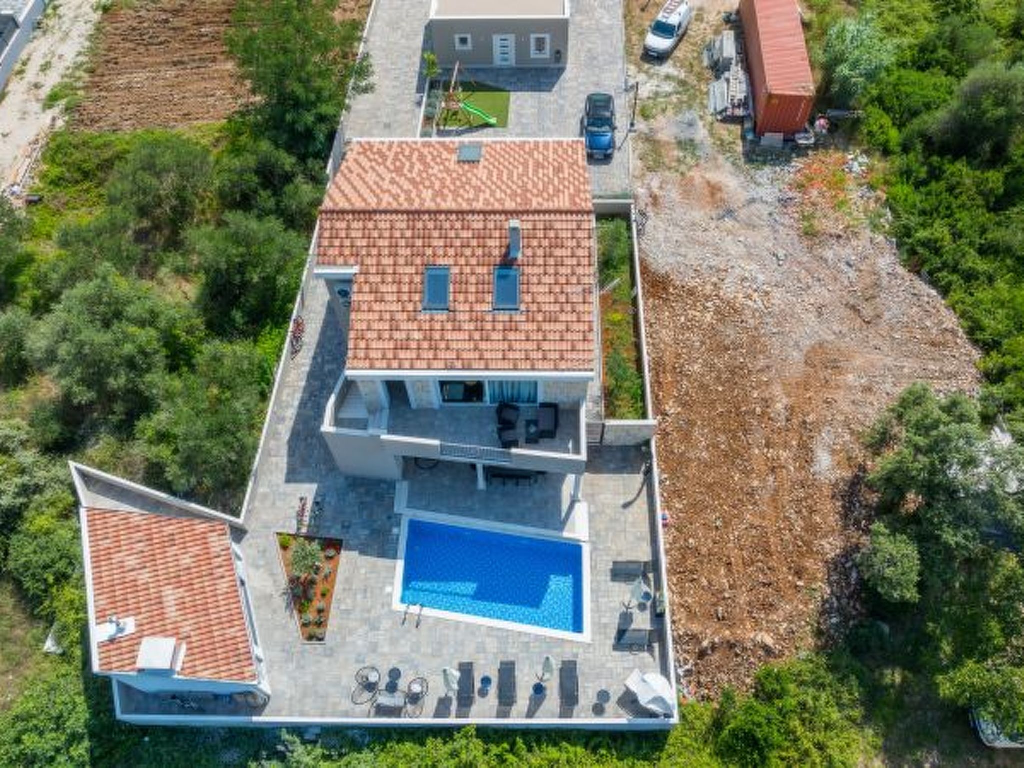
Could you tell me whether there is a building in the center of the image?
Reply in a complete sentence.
Yes, you'll find a building in the center of the image.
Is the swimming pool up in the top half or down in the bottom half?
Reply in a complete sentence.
You can find the swimming pool in the bottom half.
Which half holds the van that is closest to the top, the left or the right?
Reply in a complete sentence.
You can find the van that is closest to the top on the right side of the picture.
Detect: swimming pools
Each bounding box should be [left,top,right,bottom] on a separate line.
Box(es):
[386,514,594,644]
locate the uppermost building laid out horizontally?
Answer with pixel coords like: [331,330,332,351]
[432,0,573,66]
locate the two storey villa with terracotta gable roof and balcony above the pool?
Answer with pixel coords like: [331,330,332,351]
[312,135,599,543]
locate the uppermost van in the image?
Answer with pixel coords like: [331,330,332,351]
[640,0,694,64]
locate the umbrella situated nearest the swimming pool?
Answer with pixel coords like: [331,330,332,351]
[535,649,550,687]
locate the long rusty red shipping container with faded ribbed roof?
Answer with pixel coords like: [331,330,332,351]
[738,0,822,134]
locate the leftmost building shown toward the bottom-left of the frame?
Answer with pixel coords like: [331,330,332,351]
[79,503,276,691]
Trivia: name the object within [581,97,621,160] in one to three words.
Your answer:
car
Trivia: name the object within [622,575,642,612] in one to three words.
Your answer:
umbrella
